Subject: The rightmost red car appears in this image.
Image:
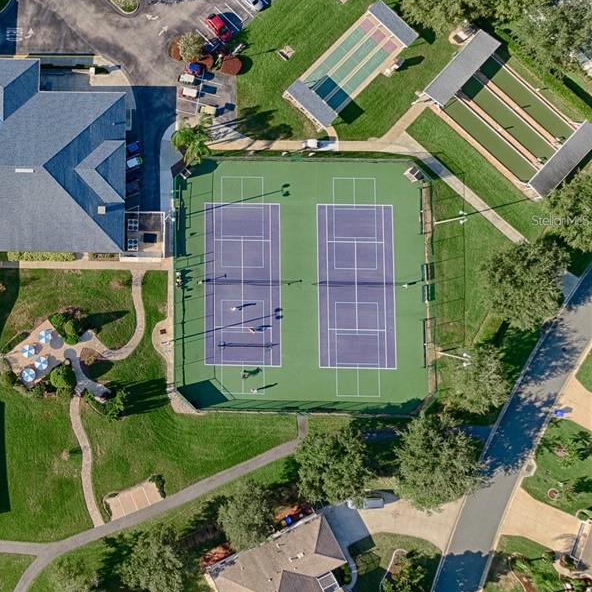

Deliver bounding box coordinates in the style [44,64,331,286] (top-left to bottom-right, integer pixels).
[204,12,234,43]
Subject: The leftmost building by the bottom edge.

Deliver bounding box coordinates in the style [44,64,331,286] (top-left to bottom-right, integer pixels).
[208,512,345,592]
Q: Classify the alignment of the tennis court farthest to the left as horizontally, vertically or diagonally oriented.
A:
vertically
